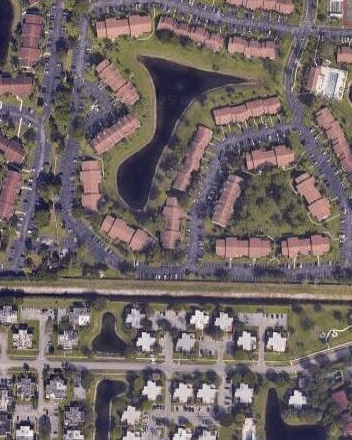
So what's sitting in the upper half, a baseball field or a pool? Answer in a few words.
pool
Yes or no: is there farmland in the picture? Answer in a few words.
No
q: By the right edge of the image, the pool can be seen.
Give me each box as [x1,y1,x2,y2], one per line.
[317,66,349,102]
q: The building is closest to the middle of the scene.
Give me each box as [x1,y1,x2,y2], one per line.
[164,196,183,250]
